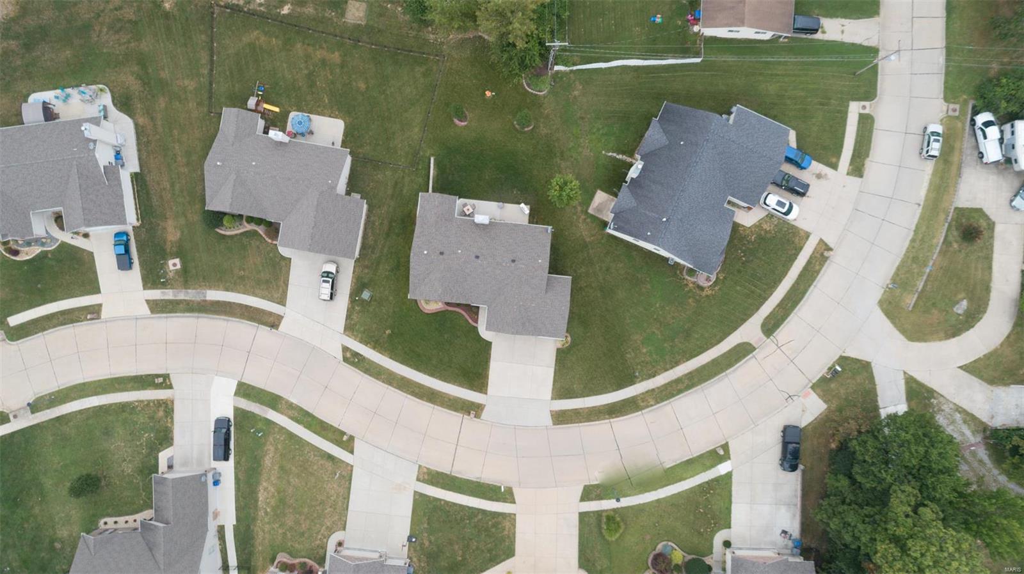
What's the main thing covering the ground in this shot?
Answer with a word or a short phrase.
grass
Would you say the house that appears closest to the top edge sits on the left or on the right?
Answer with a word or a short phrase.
right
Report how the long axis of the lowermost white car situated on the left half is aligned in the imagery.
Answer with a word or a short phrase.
from top to bottom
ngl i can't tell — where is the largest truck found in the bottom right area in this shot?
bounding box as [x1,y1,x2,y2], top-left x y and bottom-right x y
[780,424,801,471]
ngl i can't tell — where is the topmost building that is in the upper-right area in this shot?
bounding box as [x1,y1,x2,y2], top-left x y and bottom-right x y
[698,0,793,42]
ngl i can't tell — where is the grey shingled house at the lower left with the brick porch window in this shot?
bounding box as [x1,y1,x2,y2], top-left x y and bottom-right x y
[68,468,215,574]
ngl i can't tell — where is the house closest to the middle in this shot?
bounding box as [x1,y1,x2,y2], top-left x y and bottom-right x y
[409,191,572,340]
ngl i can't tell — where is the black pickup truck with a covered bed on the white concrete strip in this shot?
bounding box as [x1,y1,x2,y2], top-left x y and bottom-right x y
[212,417,233,461]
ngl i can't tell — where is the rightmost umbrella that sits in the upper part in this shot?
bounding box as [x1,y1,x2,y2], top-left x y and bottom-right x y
[290,113,311,134]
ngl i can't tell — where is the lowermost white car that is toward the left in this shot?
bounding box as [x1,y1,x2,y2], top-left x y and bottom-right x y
[318,262,339,302]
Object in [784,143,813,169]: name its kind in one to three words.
car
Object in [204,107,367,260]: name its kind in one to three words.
house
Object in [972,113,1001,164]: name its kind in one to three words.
truck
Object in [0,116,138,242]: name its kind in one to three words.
house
